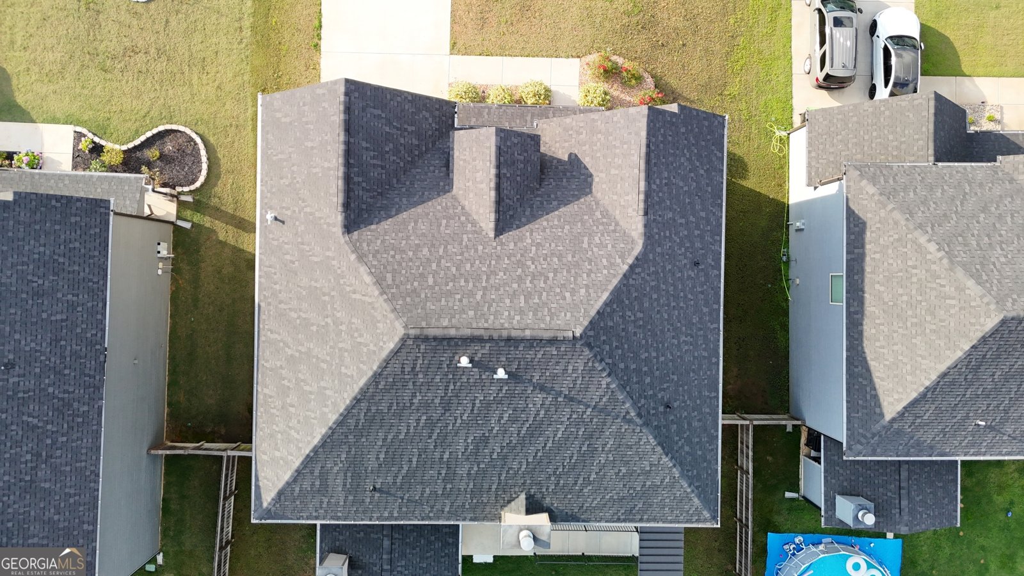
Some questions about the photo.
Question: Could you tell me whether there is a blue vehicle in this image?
No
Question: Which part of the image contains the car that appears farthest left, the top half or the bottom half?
top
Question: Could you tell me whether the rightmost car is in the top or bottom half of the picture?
top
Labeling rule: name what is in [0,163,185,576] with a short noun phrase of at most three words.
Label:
house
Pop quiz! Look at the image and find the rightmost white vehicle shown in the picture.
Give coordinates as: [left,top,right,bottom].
[866,5,928,101]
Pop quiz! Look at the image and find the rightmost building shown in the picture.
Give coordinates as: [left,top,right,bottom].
[787,92,1024,536]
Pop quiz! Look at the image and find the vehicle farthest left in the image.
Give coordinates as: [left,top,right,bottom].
[802,0,866,92]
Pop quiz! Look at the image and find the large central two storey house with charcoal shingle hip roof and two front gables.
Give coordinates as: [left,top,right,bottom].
[251,76,728,576]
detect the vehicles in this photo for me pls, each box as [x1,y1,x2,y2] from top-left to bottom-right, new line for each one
[866,5,928,101]
[802,0,866,92]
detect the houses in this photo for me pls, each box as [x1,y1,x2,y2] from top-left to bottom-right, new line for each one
[0,163,185,576]
[787,92,1024,536]
[251,76,728,576]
